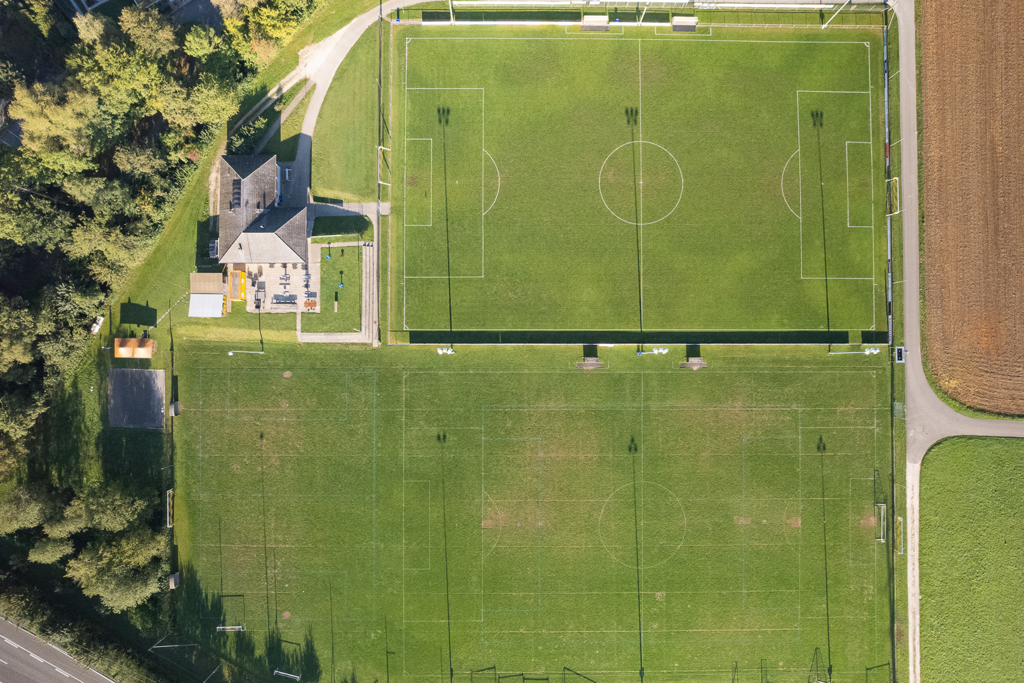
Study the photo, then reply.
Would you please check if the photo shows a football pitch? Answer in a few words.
Yes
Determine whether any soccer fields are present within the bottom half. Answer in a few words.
Yes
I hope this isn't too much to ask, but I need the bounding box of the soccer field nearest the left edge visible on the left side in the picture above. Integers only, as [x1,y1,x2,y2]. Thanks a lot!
[174,345,385,683]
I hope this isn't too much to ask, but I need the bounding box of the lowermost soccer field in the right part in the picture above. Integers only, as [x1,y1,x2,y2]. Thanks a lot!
[385,345,892,683]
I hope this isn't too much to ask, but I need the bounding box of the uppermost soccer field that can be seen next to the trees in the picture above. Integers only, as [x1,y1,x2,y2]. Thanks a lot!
[391,24,889,344]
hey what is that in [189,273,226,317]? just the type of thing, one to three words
shed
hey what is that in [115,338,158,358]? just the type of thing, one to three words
gazebo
